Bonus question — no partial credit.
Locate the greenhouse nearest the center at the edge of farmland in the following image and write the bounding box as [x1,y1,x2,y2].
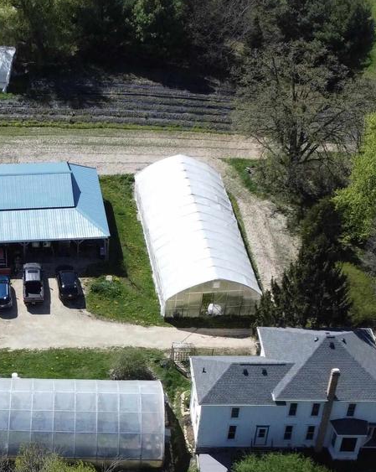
[135,158,263,318]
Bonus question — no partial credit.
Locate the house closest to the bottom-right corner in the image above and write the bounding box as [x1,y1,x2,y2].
[190,328,376,465]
